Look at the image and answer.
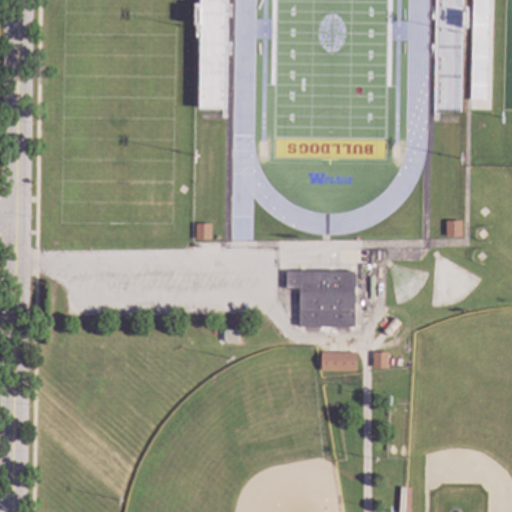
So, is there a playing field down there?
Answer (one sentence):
Yes, looking at the shot, I can spot a playing field.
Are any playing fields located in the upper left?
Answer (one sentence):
Yes, in the upper left there is a playing field.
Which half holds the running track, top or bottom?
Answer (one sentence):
You can find the running track in the top half.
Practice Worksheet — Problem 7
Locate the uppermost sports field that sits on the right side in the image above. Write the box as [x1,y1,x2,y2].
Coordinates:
[257,0,408,213]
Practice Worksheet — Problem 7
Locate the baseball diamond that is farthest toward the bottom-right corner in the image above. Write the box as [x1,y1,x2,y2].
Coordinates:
[407,308,512,512]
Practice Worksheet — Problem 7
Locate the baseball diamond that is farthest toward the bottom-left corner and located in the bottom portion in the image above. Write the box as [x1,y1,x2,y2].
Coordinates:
[122,346,344,512]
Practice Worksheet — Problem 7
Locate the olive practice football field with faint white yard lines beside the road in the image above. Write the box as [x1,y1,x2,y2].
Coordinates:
[43,0,194,248]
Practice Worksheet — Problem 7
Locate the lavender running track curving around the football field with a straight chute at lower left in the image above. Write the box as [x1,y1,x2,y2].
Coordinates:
[234,0,430,241]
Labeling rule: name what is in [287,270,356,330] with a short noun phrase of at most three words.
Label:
building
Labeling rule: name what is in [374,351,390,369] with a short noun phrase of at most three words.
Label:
building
